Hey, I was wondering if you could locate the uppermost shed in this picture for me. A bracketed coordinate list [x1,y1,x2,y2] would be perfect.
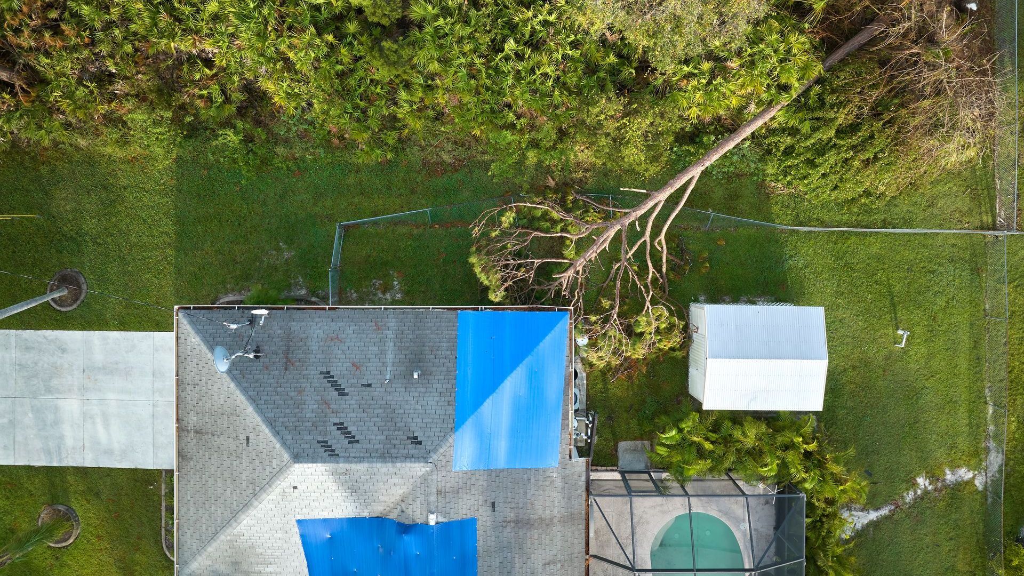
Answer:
[687,299,832,411]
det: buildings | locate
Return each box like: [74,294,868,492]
[687,299,832,411]
[174,306,593,576]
